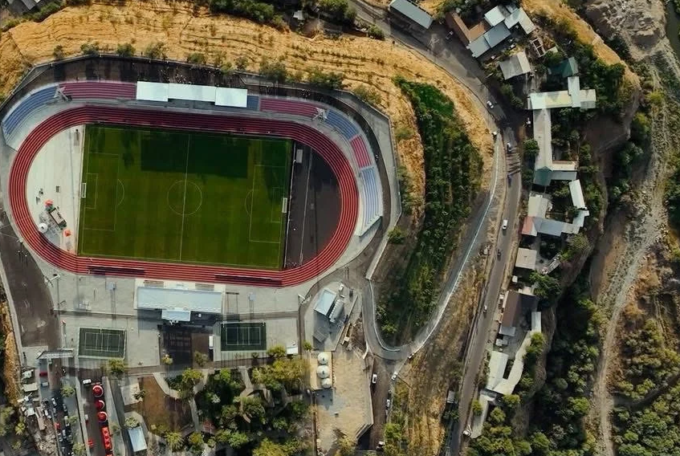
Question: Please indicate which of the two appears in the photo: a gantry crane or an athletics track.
athletics track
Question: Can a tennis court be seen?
Yes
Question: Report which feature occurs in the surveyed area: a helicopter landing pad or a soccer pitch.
soccer pitch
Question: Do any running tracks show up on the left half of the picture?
Yes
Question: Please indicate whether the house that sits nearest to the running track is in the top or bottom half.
bottom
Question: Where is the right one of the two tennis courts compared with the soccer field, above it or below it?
below it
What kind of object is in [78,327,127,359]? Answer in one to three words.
tennis court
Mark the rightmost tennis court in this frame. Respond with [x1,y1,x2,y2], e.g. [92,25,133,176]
[221,323,267,351]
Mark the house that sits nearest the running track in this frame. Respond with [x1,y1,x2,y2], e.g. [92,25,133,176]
[313,288,338,316]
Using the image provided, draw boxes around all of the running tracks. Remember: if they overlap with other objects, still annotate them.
[8,105,360,288]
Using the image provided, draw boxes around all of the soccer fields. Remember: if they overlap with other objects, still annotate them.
[73,123,295,270]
